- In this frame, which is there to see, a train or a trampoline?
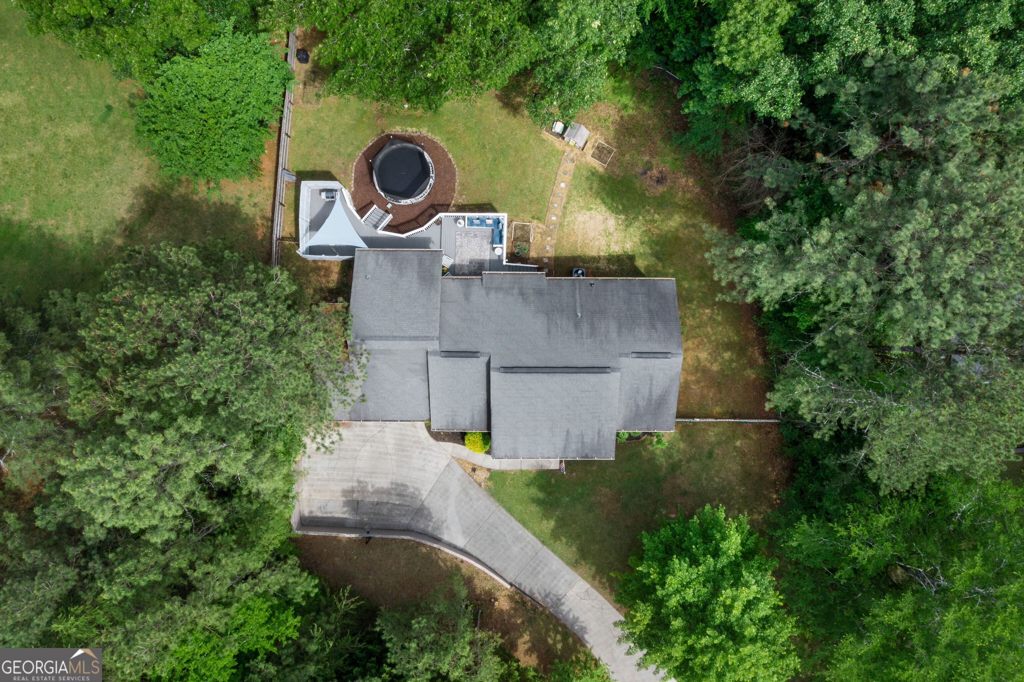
trampoline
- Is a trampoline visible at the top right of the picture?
No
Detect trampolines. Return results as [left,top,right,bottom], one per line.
[367,136,436,207]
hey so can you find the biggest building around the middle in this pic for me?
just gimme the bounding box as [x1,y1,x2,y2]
[318,247,683,461]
